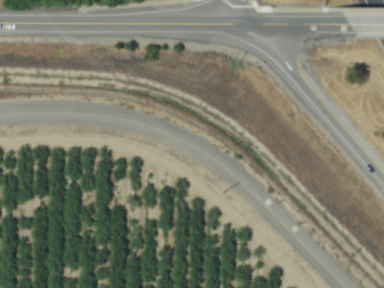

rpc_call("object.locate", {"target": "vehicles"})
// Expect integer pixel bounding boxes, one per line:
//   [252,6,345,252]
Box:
[3,24,16,29]
[366,162,376,173]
